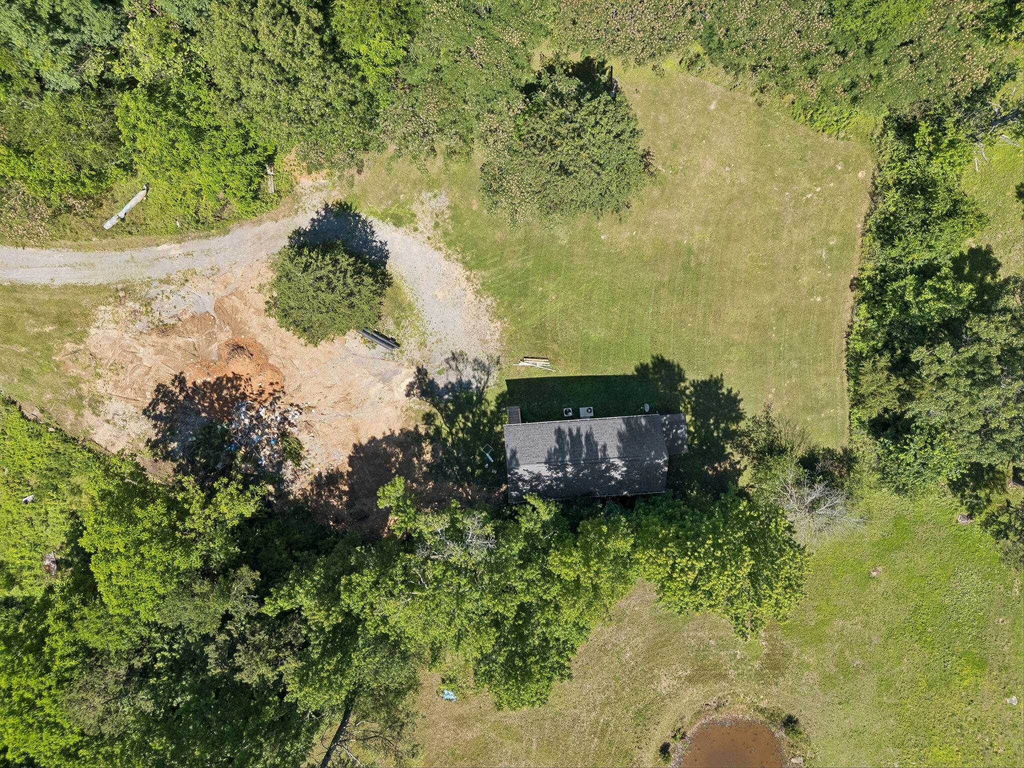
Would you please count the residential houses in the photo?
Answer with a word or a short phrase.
1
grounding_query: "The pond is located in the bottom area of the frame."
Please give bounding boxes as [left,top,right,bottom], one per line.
[672,714,789,768]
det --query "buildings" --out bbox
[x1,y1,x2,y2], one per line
[504,412,688,508]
